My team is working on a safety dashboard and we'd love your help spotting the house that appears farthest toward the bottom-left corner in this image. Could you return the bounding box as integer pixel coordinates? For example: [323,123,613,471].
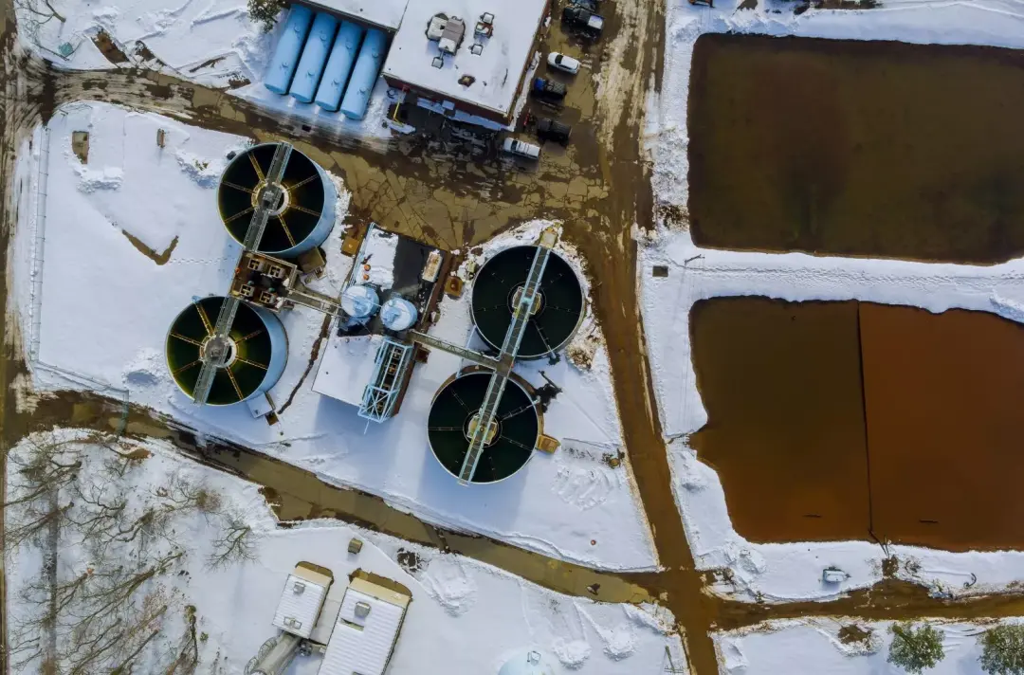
[273,566,333,638]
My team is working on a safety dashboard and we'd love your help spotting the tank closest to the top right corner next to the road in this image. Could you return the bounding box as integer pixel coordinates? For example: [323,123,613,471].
[472,224,583,357]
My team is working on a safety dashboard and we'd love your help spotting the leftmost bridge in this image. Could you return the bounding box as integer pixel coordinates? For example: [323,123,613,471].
[191,295,238,406]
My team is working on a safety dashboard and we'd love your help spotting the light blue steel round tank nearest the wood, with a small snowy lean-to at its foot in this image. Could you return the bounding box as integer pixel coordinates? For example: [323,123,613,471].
[165,295,287,406]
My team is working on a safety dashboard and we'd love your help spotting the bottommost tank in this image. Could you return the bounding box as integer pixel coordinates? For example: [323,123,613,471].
[428,365,546,483]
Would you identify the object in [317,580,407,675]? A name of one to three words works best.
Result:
house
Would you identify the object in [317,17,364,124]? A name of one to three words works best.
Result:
storage tank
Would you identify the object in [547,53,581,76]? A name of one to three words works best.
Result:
car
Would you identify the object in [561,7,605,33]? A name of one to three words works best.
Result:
truck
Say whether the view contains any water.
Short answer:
Yes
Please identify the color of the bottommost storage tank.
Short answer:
black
